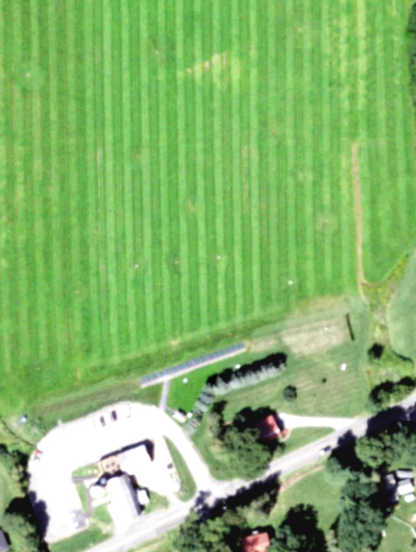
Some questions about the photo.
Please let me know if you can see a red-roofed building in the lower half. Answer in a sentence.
Yes, in the lower half there is a red-roofed building.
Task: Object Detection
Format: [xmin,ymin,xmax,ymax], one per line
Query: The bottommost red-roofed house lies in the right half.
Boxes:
[242,533,271,552]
